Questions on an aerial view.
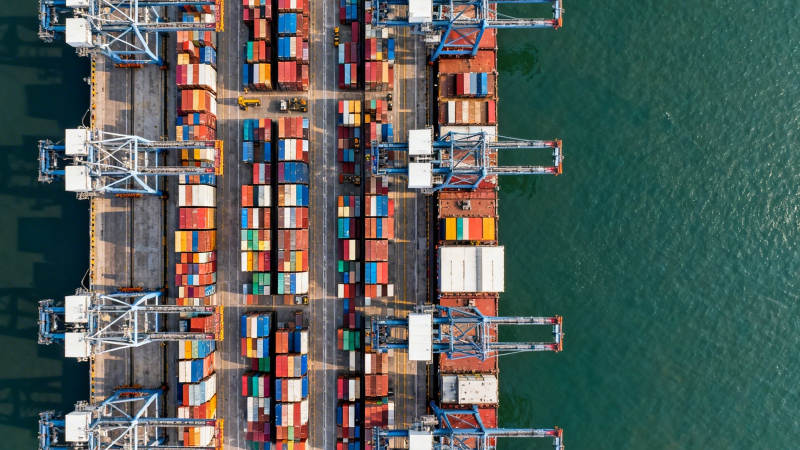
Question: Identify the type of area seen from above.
port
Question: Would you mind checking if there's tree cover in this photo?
No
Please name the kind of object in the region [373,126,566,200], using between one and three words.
container crane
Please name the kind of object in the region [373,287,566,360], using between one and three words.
container crane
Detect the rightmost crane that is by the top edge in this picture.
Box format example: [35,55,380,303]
[373,0,566,70]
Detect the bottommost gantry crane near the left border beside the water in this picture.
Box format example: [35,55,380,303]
[32,377,225,450]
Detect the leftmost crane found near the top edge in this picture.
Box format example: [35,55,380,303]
[32,0,225,72]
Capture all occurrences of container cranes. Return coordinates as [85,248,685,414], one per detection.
[373,0,566,70]
[32,276,225,357]
[373,126,566,200]
[373,287,566,360]
[32,126,225,200]
[373,388,566,450]
[32,377,225,450]
[32,0,225,72]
